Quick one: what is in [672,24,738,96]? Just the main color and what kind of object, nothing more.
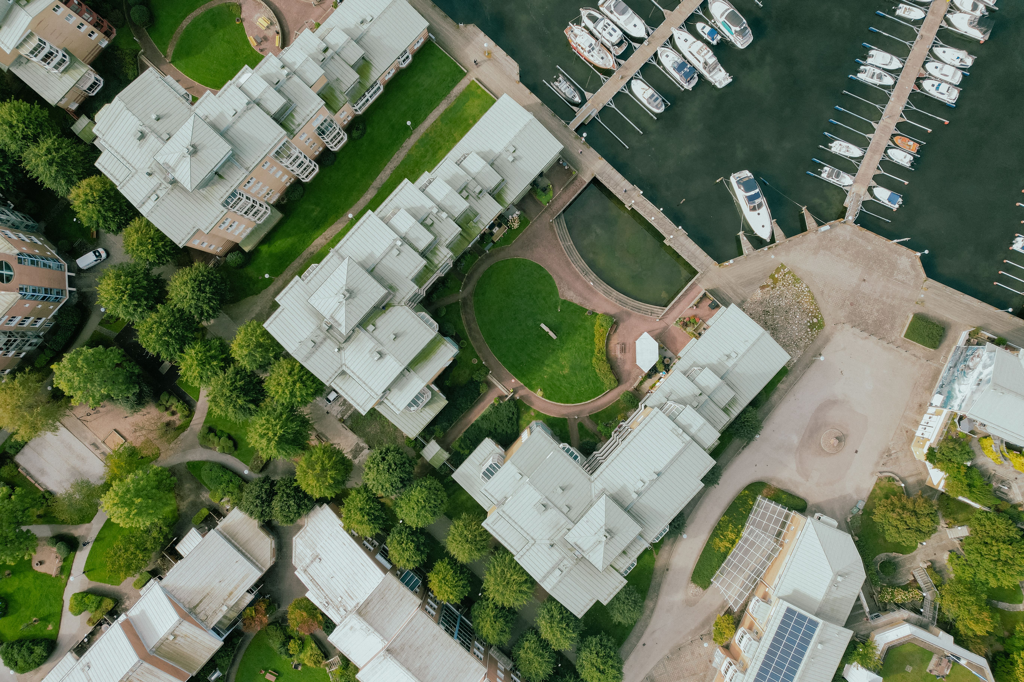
white boat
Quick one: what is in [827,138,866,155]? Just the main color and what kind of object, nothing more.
white boat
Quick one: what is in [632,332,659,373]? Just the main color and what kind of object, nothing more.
white tent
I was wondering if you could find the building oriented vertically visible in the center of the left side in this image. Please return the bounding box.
[0,216,76,377]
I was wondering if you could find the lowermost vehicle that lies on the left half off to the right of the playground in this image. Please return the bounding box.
[321,388,344,407]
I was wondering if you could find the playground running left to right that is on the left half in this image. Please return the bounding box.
[70,399,179,447]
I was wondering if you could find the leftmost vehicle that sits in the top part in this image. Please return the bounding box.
[73,247,112,271]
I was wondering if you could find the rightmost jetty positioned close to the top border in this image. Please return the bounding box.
[843,0,951,206]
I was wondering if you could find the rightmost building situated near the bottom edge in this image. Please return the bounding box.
[866,620,996,682]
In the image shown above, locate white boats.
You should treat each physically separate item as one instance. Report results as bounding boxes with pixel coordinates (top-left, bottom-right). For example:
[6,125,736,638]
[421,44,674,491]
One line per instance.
[631,78,667,116]
[924,61,964,86]
[1006,236,1024,252]
[944,12,996,49]
[729,166,772,239]
[887,149,919,167]
[707,0,756,56]
[591,0,649,39]
[872,187,906,209]
[863,50,905,68]
[953,0,991,17]
[582,6,631,59]
[921,79,961,104]
[827,138,866,155]
[672,24,738,96]
[696,21,723,47]
[891,4,928,18]
[815,166,856,184]
[657,45,701,98]
[932,45,976,69]
[852,65,897,83]
[561,20,616,71]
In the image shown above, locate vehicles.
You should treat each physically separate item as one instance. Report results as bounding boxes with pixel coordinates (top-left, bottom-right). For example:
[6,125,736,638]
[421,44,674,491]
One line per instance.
[73,247,112,271]
[321,388,344,407]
